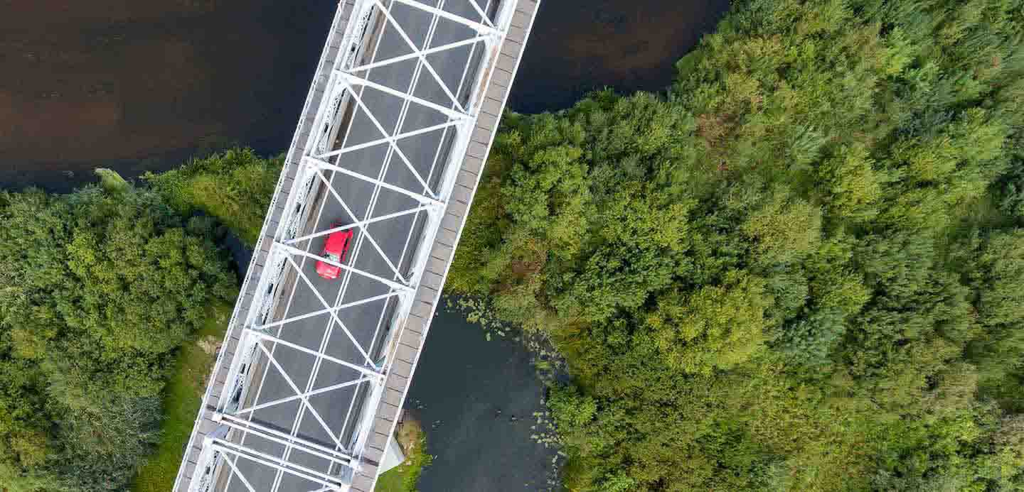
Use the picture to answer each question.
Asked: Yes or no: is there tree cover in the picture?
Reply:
Yes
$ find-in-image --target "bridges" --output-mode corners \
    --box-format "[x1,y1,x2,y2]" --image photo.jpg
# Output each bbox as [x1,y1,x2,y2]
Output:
[172,0,542,492]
